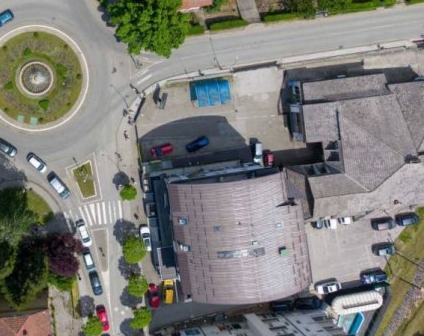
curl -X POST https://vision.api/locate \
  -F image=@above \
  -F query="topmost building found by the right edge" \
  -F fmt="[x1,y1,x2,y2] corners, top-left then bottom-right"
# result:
[272,74,424,221]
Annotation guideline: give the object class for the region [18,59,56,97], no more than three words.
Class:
fountain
